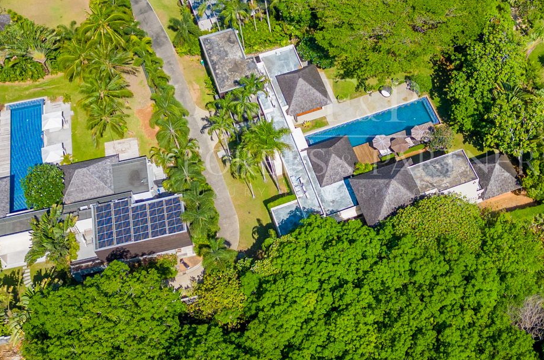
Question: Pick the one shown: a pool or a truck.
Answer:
pool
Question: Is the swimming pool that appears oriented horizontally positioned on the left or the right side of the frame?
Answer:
right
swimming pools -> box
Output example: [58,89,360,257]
[7,96,50,214]
[303,94,449,155]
